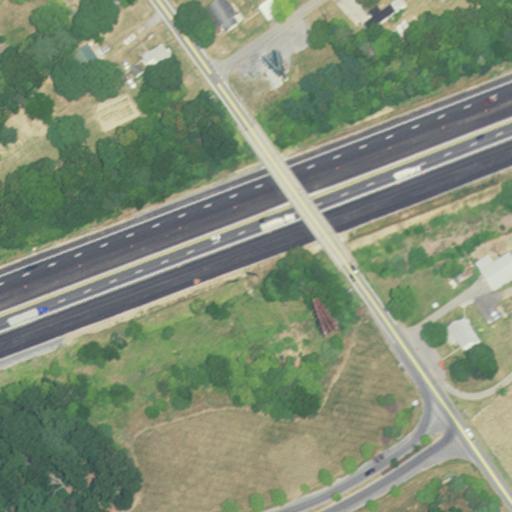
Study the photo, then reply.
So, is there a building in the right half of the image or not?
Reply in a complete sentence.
Yes, I can see a building in the right half of the image.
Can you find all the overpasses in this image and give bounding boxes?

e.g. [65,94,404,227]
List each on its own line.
[258,147,357,273]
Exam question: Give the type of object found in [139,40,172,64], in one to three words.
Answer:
house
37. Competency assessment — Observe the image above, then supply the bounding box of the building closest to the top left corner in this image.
[72,42,98,65]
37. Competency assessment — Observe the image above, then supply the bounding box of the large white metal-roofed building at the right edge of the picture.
[474,248,512,290]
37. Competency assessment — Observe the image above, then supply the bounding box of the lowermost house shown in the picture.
[448,315,481,351]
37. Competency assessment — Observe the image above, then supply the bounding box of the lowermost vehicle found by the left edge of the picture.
[7,306,48,326]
